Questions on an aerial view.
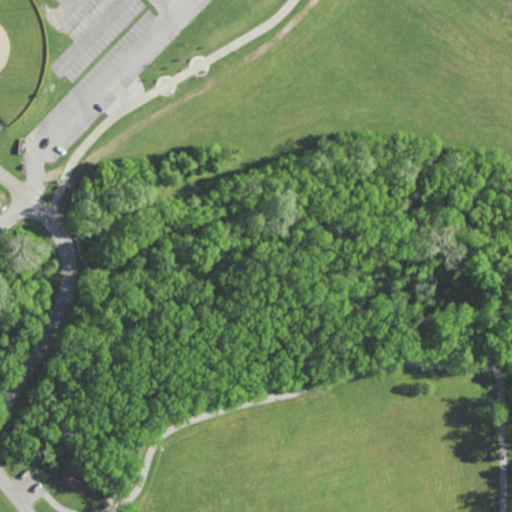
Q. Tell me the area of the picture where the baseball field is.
top left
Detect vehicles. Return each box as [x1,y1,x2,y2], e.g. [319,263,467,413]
[22,470,31,480]
[93,104,102,112]
[40,138,49,148]
[34,483,43,492]
[57,146,68,156]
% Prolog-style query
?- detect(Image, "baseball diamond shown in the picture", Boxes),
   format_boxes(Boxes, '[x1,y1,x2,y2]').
[0,0,45,125]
